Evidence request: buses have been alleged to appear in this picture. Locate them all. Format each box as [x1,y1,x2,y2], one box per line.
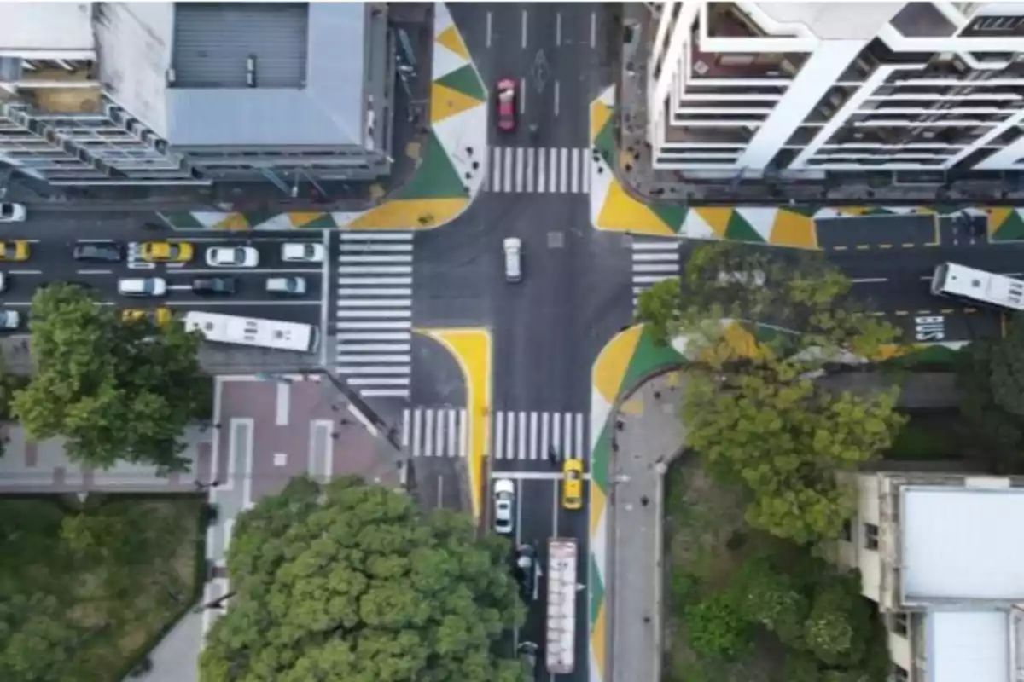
[185,312,321,356]
[930,264,1024,315]
[544,535,578,675]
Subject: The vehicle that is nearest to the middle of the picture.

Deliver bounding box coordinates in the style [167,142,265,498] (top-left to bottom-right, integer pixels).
[502,238,523,283]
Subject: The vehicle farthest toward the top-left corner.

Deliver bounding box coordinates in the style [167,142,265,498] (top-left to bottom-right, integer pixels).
[0,201,30,223]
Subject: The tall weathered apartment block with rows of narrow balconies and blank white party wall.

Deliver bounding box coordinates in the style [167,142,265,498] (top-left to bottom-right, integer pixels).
[0,0,213,194]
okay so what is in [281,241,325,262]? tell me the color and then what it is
white car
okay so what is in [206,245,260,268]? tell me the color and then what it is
white car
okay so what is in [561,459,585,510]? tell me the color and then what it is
yellow car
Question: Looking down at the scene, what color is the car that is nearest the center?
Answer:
white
